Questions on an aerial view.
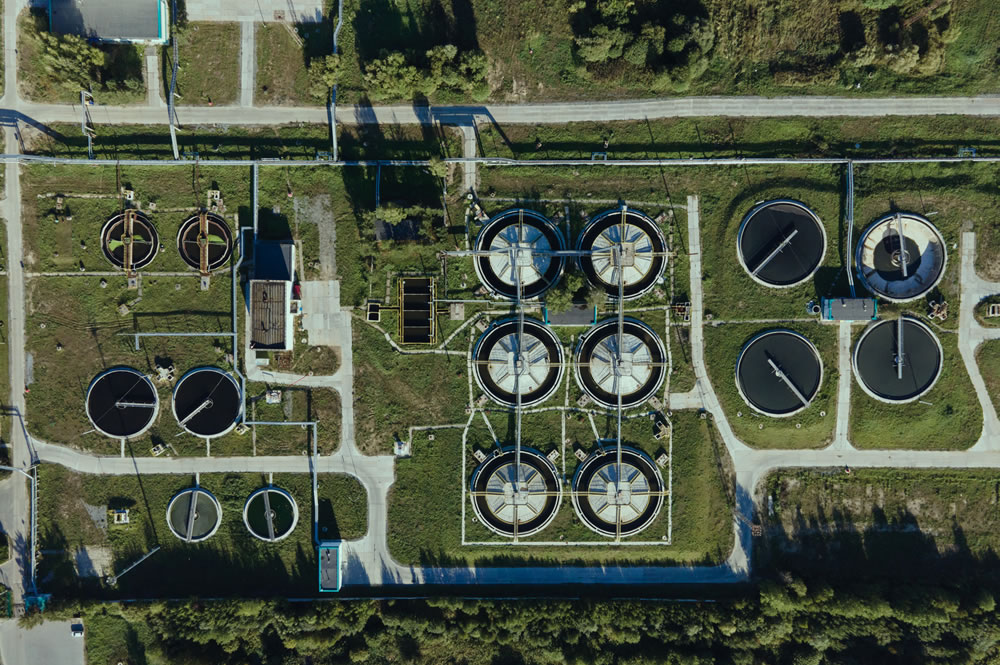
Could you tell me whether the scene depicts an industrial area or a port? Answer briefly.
industrial area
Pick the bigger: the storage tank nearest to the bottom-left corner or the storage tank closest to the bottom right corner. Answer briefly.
the storage tank closest to the bottom right corner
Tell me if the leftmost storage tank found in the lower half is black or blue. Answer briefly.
black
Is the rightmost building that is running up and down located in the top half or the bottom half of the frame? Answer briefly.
bottom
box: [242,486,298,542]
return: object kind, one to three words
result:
storage tank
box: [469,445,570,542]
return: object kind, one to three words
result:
storage tank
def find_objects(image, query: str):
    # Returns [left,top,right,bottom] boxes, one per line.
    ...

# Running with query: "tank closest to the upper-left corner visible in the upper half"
[102,208,160,283]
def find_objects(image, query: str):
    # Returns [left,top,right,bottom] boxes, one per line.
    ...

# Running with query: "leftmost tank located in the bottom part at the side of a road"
[88,367,160,438]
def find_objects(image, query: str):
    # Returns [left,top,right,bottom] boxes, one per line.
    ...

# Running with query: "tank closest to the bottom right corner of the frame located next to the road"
[852,314,940,405]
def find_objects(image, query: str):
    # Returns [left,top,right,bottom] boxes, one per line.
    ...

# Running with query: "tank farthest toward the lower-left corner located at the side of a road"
[167,486,223,542]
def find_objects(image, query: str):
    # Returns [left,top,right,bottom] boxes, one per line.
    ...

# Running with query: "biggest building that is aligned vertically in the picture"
[248,242,300,349]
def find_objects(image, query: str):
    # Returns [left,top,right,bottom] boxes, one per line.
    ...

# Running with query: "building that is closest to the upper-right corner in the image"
[815,298,877,324]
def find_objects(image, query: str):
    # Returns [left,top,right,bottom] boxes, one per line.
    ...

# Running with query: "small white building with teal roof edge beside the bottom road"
[319,541,343,592]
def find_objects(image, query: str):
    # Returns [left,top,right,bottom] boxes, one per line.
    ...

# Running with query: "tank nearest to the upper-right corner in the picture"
[854,213,945,303]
